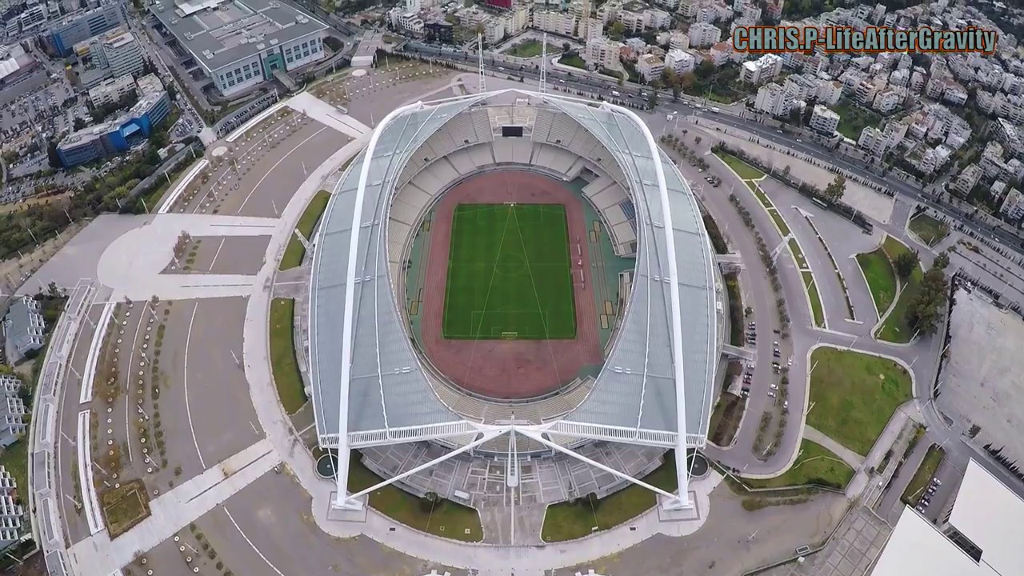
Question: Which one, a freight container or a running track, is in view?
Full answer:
Looking from above, you can make out a running track.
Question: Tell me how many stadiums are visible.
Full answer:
Only 1 stadium is visible.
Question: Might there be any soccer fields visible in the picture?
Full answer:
Yes, there's a soccer field down there.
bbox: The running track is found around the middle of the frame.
[408,170,621,398]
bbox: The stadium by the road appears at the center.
[300,87,724,511]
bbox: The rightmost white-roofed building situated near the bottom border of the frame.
[936,458,1024,576]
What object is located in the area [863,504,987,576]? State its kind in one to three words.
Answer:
building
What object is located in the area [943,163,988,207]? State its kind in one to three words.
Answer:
building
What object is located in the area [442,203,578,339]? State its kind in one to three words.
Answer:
soccer field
